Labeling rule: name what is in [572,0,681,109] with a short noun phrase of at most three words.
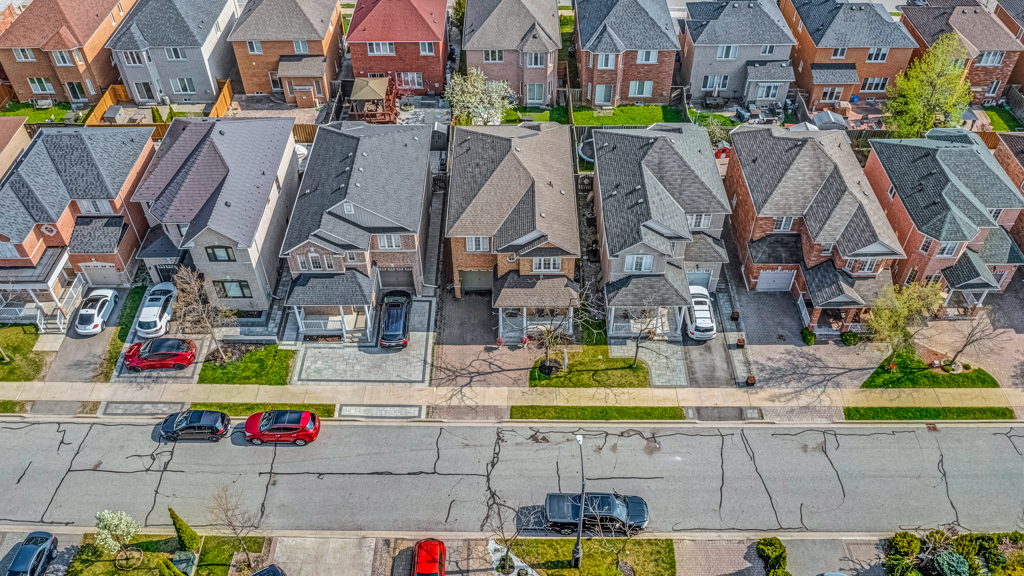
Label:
house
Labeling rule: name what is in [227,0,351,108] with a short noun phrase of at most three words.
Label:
house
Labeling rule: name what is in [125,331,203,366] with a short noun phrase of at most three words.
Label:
car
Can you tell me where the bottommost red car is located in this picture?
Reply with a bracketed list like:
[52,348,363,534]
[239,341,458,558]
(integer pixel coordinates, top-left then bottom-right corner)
[413,537,450,576]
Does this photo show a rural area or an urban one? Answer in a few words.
urban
